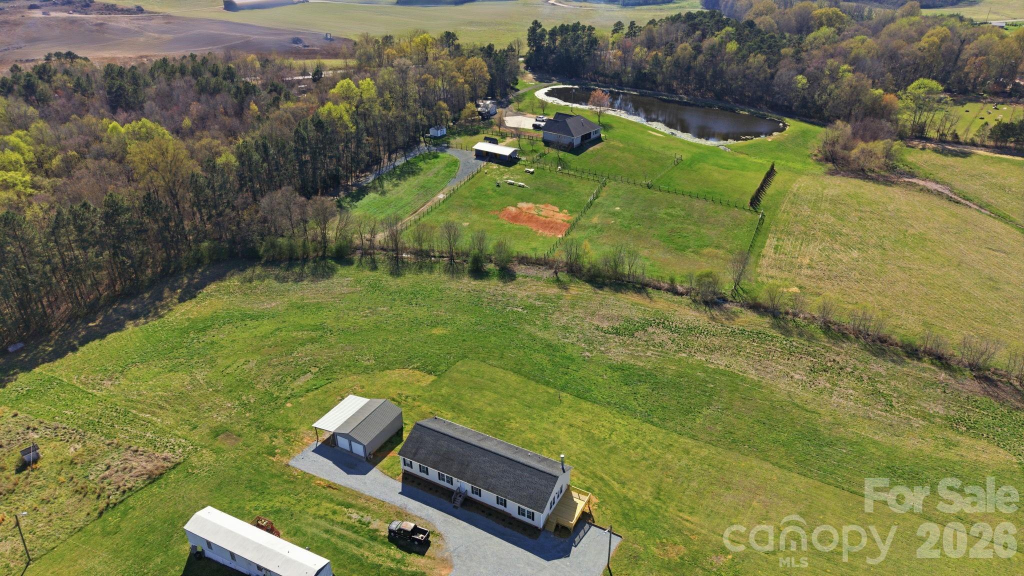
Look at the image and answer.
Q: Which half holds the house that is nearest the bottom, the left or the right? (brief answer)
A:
left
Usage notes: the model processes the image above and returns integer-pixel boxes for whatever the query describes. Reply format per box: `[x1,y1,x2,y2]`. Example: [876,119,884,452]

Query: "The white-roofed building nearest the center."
[473,141,517,165]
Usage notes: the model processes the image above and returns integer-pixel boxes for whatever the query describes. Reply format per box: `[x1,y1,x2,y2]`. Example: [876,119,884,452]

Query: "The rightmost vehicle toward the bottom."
[385,521,431,547]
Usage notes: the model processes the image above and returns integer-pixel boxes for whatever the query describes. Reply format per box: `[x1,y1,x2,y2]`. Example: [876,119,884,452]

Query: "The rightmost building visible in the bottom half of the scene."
[398,413,590,534]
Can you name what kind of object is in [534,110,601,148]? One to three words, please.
house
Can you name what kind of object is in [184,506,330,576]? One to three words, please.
house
